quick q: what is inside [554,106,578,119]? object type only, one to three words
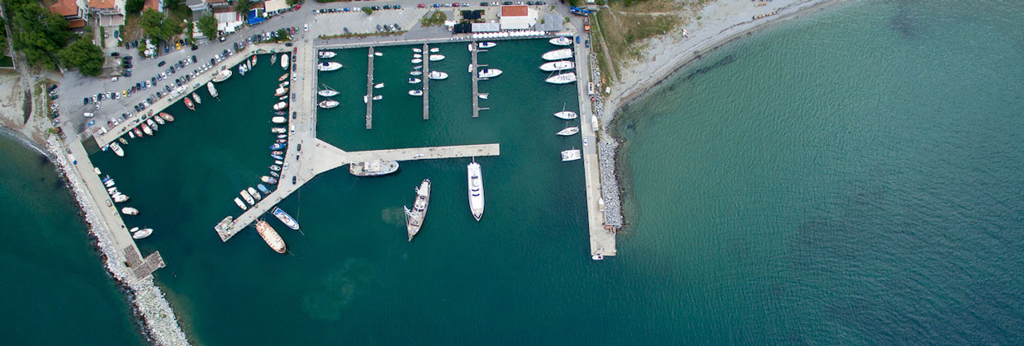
boat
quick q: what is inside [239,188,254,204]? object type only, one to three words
boat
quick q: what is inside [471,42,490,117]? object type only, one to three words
pier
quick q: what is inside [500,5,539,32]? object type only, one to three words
building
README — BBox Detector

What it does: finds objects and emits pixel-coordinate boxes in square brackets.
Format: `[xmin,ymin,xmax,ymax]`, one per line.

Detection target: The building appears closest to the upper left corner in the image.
[51,0,93,30]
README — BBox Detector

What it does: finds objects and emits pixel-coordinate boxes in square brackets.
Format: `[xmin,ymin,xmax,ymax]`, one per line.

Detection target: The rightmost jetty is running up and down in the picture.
[572,31,616,256]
